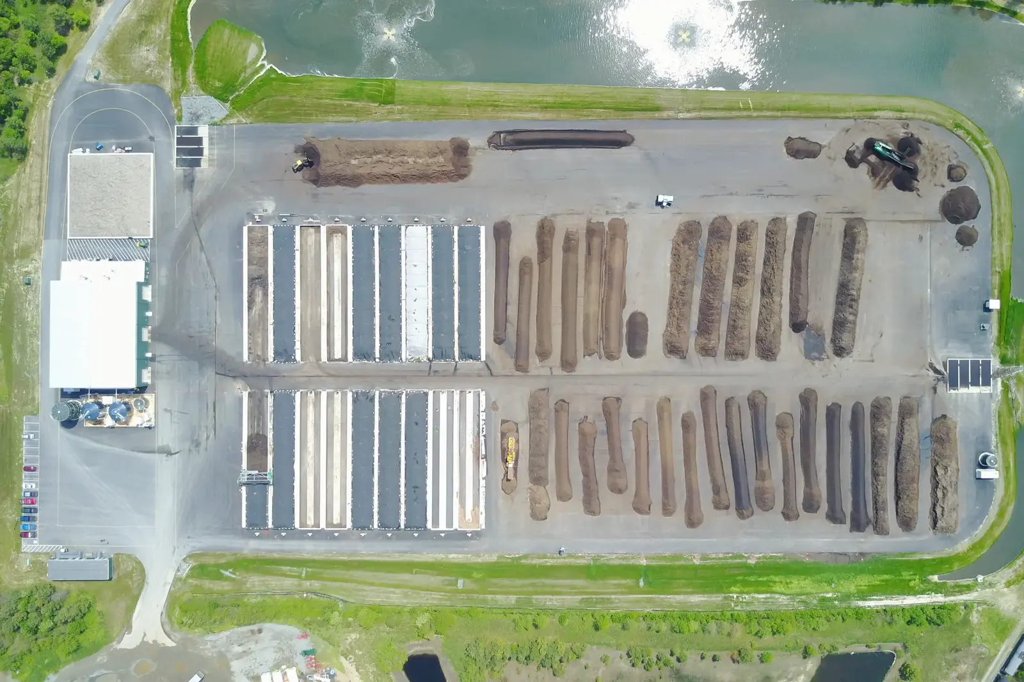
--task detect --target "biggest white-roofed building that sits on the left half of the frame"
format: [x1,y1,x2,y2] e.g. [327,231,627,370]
[50,280,156,388]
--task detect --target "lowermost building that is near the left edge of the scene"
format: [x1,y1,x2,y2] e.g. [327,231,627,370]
[48,551,114,580]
